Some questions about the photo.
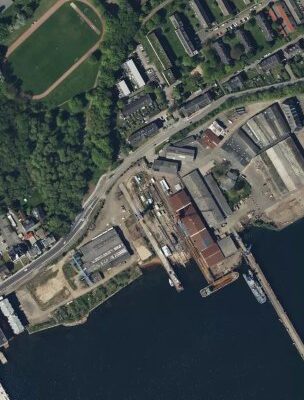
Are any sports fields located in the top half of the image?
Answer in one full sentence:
Yes, I can see a sports field in the top half of the image.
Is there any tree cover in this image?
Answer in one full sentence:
Yes, the picture does contain tree cover.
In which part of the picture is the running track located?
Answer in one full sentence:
The running track appears toward the top left of the photo.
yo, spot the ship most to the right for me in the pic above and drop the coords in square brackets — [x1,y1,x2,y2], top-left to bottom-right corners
[243,272,266,303]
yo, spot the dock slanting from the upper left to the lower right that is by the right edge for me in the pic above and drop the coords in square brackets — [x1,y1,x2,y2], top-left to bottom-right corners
[238,243,304,361]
